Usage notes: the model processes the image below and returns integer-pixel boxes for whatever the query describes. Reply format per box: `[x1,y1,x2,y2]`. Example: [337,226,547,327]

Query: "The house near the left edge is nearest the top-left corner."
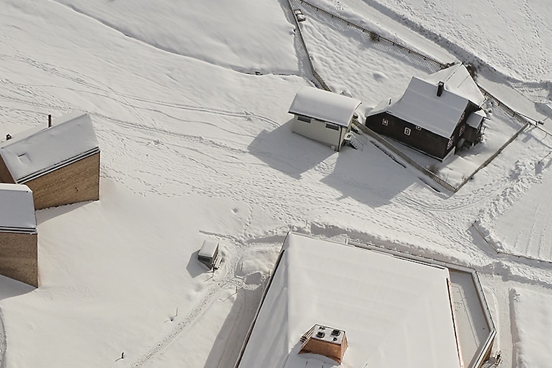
[0,110,100,212]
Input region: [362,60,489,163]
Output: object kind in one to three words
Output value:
house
